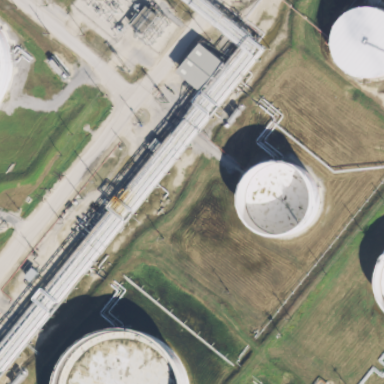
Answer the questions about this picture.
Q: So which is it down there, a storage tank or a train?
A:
storage tank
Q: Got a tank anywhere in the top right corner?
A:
Yes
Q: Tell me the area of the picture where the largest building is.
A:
top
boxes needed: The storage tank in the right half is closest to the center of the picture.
[234,158,324,240]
